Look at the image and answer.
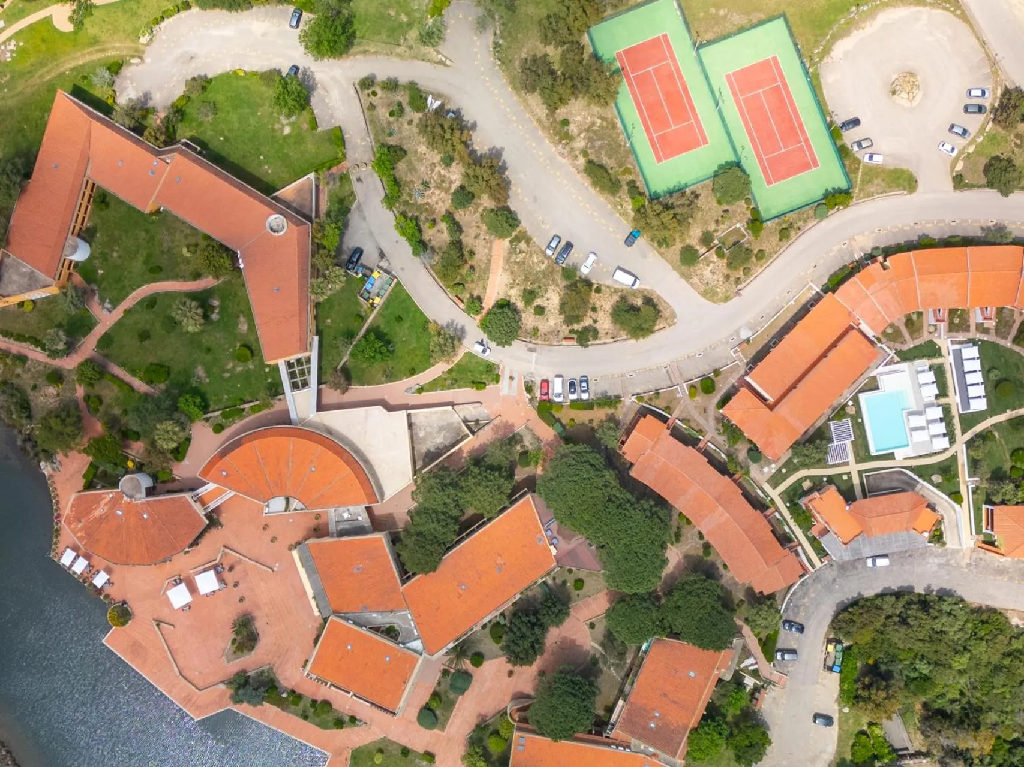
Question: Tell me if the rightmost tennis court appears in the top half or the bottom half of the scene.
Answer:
top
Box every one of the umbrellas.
[167,583,192,609]
[61,549,78,566]
[73,557,90,574]
[93,571,110,588]
[195,570,219,595]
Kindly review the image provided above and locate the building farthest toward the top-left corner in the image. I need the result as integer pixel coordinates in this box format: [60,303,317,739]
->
[0,89,316,364]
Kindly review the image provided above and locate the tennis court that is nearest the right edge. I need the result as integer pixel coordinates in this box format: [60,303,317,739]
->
[701,10,856,221]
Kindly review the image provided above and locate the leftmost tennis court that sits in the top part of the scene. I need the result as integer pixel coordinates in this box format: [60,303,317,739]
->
[589,0,743,198]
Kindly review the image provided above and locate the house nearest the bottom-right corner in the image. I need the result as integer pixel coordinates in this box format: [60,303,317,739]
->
[971,504,1024,558]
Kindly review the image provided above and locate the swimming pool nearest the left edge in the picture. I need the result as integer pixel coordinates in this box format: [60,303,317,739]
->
[858,358,946,460]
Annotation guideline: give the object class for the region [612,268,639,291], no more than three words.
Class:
vehicle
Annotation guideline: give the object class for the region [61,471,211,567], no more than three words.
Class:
building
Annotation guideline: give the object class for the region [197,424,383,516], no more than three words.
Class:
building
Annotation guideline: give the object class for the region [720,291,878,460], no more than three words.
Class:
house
